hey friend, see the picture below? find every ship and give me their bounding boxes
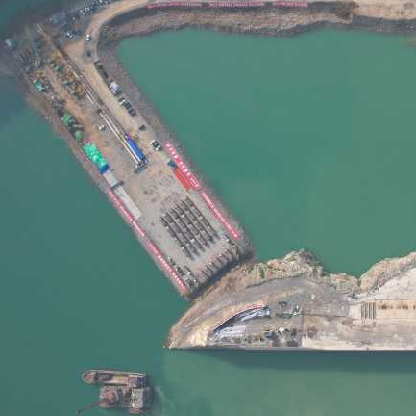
[80,371,147,392]
[79,387,152,412]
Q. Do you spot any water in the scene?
Yes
